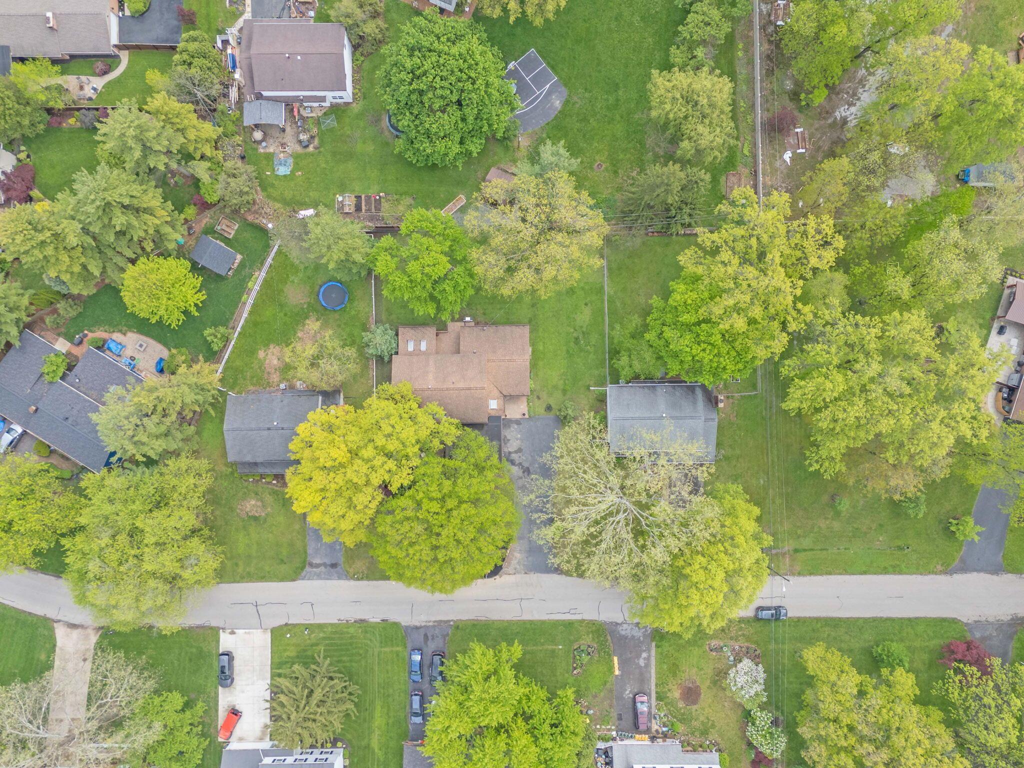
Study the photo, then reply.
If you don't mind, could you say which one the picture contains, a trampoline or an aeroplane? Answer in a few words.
trampoline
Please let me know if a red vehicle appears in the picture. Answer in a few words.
Yes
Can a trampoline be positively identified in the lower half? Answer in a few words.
No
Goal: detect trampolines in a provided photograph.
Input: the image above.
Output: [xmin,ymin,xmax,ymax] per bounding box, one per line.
[315,278,347,310]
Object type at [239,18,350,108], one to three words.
house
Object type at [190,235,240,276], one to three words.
shed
